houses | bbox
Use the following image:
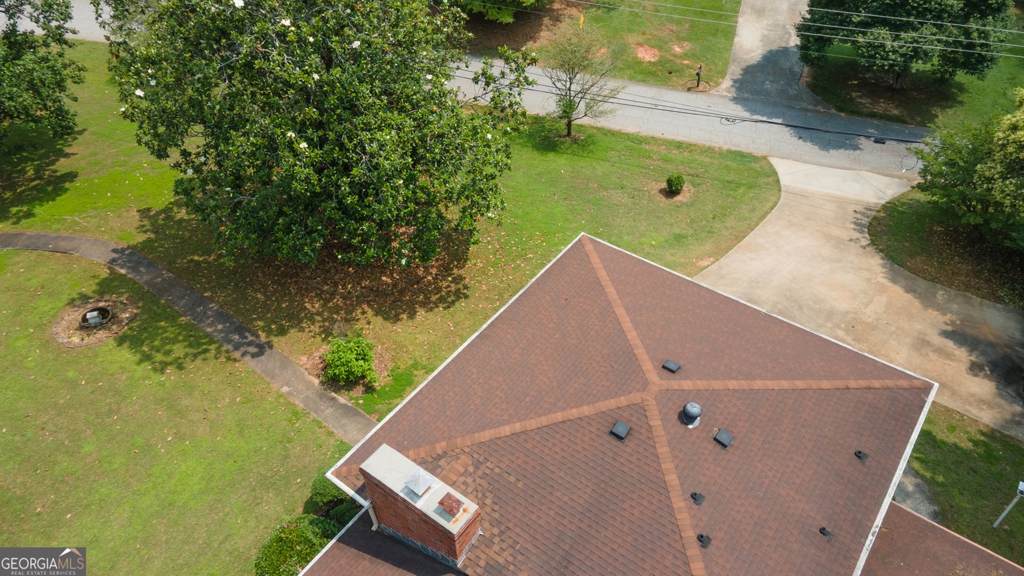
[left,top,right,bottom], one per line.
[296,234,1024,576]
